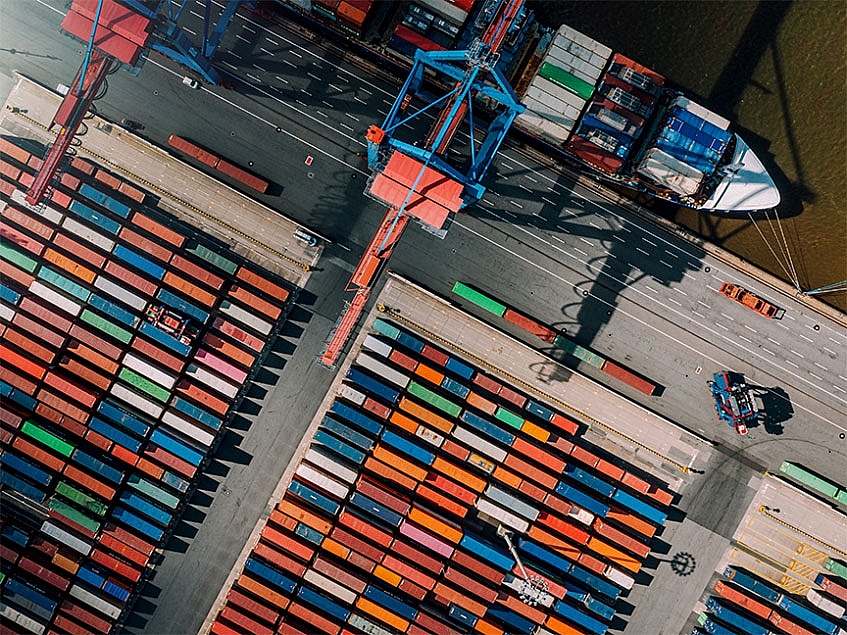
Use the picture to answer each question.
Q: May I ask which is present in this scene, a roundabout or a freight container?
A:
freight container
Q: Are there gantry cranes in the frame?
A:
Yes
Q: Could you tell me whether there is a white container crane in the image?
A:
No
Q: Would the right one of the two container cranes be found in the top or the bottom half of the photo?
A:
top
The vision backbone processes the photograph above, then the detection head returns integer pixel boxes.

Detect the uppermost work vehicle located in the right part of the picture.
[706,373,768,435]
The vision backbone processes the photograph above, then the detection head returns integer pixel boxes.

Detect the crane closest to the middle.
[313,0,532,374]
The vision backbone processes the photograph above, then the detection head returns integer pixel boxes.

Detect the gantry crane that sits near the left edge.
[10,0,300,211]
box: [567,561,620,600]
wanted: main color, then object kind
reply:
blue shipping container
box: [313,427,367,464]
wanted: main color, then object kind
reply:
blue shipping container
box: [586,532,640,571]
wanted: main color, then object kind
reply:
orange shipping container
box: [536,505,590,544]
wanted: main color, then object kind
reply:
red shipping container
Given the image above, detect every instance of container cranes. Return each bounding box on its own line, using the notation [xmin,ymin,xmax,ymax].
[10,0,300,211]
[313,0,532,374]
